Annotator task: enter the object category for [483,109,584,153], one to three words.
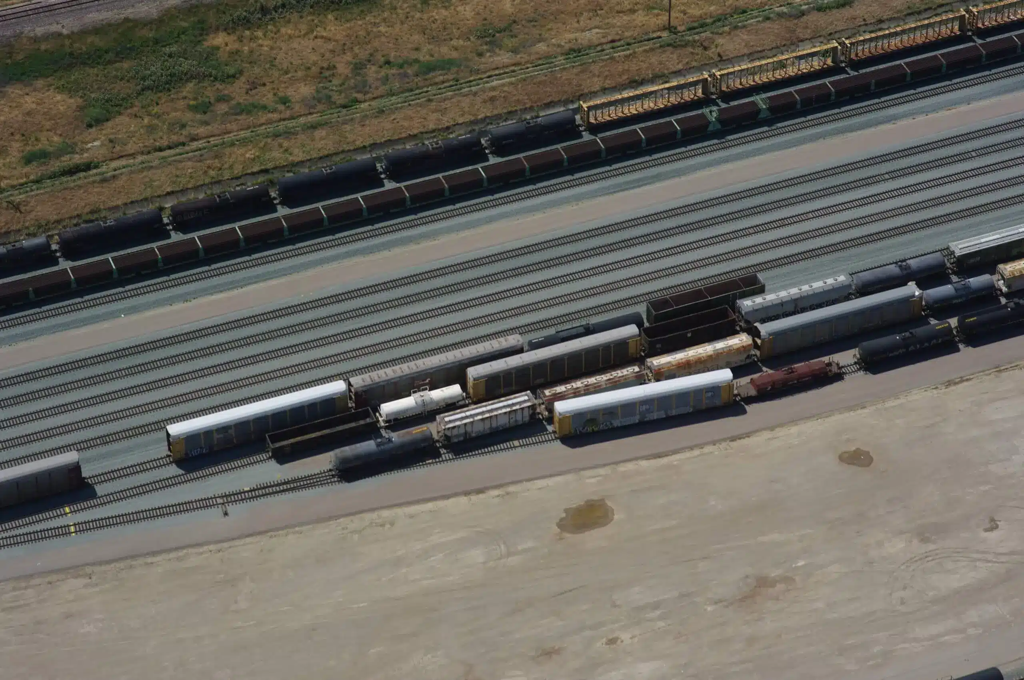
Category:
rail car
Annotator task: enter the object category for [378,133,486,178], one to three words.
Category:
rail car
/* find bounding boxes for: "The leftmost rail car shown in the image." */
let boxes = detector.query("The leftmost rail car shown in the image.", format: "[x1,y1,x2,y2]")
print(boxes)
[0,238,58,268]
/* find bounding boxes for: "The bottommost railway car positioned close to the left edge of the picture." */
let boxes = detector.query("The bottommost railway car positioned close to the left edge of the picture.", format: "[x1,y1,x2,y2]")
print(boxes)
[12,257,137,306]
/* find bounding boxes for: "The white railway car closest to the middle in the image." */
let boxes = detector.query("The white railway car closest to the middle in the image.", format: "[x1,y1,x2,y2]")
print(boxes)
[375,384,468,428]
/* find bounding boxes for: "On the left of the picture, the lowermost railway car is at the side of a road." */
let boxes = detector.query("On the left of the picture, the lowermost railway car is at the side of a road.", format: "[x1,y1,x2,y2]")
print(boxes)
[330,426,440,476]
